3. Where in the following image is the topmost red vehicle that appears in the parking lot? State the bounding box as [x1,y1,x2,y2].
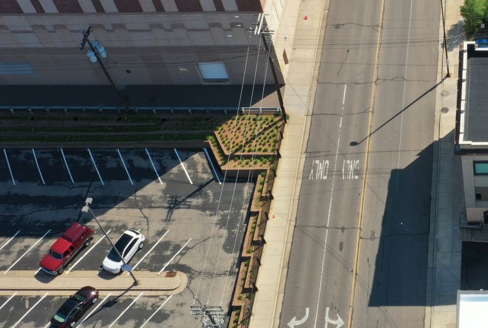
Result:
[38,224,95,276]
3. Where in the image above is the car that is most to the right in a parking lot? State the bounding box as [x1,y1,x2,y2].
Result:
[105,232,144,273]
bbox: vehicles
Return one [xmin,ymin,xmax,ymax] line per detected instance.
[105,232,144,273]
[47,286,103,328]
[38,224,95,276]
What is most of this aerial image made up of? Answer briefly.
paved ground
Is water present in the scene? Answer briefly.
No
